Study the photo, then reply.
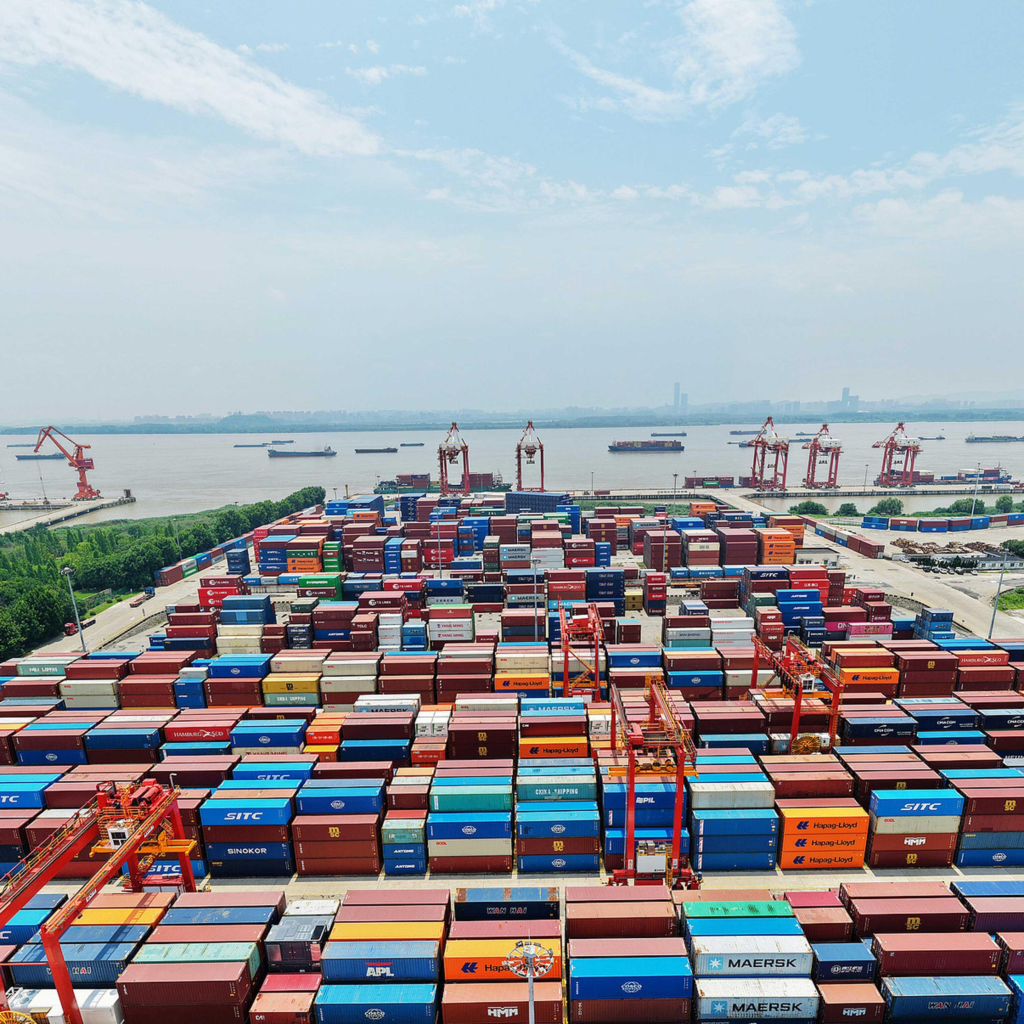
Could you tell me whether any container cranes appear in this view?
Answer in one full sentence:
Yes, the frame does contain a container crane.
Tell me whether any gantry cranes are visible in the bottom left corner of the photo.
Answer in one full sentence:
Yes, there is a gantry crane in the bottom left corner of the photo.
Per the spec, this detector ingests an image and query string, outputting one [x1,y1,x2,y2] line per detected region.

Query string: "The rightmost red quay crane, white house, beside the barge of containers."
[874,423,926,488]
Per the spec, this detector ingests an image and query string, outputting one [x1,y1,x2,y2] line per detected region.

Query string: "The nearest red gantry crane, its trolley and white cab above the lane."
[0,768,209,1024]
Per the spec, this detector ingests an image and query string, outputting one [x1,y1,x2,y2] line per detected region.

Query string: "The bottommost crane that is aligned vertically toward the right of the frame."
[597,672,704,887]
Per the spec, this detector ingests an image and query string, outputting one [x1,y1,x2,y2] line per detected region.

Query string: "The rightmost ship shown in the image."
[963,429,1023,442]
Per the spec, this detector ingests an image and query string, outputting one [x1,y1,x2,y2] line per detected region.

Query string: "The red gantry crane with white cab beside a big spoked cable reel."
[750,633,848,755]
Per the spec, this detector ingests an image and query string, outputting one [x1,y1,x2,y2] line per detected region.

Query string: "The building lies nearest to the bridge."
[788,552,841,568]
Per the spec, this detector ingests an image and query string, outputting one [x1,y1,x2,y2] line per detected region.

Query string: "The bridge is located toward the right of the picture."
[710,496,780,514]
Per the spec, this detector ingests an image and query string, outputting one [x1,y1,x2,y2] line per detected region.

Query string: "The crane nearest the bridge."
[751,418,790,490]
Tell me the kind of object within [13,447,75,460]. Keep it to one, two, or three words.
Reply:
ship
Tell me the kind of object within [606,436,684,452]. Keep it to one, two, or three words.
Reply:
ship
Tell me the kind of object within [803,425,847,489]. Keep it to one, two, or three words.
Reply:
container crane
